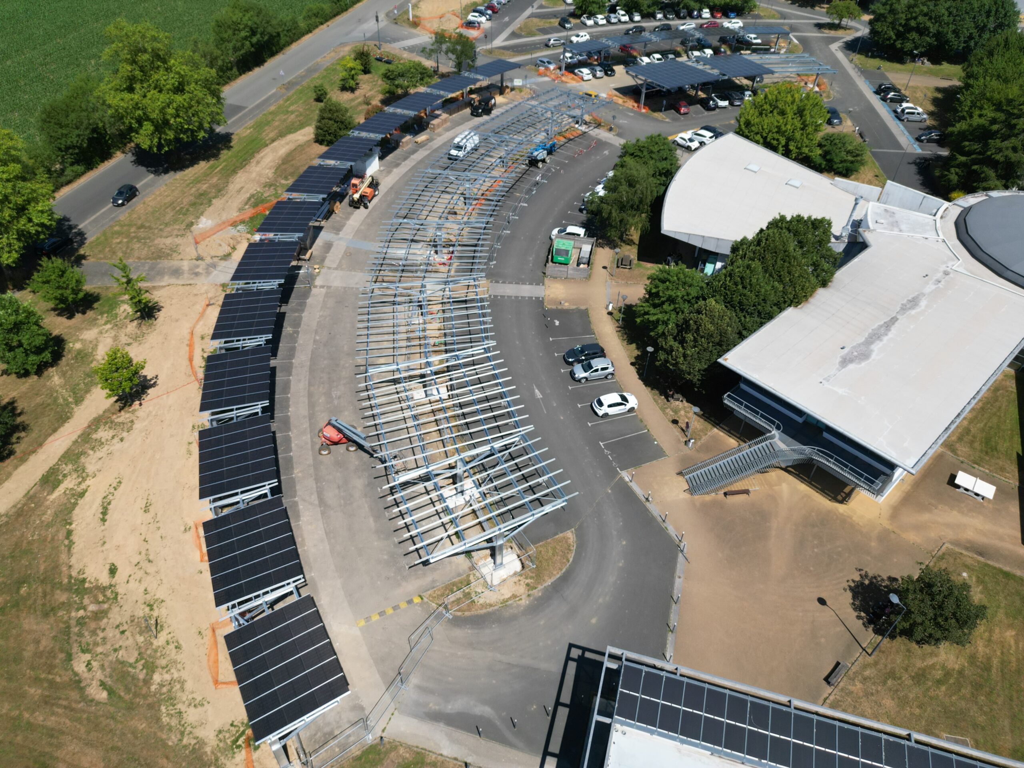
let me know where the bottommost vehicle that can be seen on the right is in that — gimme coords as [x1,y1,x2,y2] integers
[591,393,639,421]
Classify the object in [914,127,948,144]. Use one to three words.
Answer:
car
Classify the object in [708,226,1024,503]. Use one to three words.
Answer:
building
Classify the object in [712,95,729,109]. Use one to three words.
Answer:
car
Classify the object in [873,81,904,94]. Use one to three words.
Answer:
vehicle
